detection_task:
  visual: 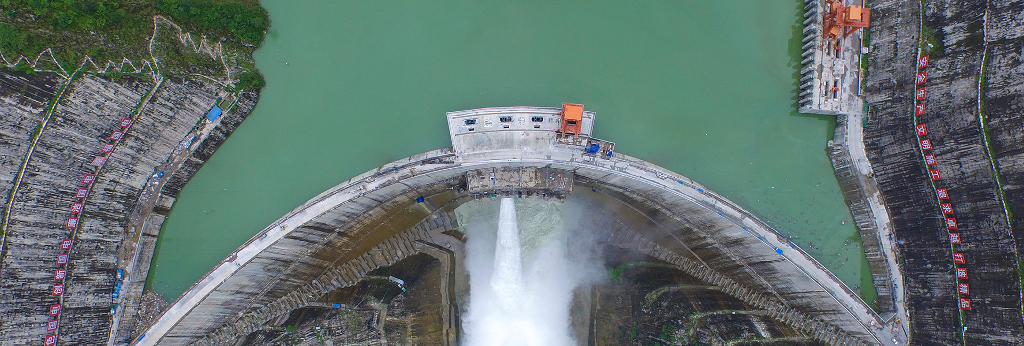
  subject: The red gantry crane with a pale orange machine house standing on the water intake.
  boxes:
[822,1,871,40]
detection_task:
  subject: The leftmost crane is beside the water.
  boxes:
[554,104,584,136]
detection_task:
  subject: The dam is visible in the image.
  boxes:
[126,106,897,346]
